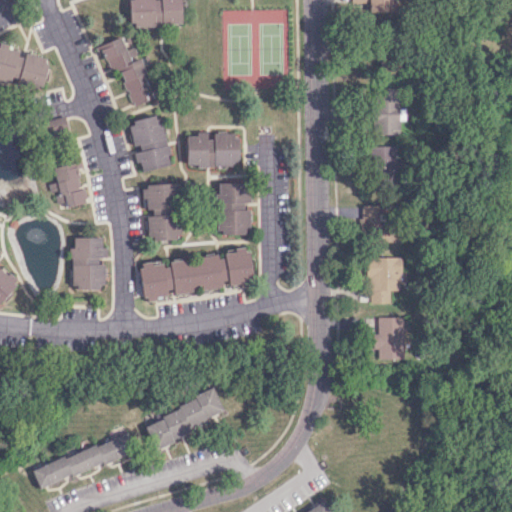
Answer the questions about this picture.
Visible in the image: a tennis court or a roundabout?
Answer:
tennis court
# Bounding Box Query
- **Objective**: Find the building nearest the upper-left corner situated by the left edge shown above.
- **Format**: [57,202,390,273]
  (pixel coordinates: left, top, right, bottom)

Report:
[0,44,48,88]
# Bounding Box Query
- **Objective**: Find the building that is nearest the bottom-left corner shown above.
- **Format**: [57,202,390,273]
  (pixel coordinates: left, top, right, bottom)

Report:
[34,443,120,488]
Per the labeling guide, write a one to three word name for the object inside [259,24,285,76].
tennis court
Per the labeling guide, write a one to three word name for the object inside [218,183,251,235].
building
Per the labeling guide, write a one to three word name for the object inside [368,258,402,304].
house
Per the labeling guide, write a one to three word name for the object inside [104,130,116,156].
vehicle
